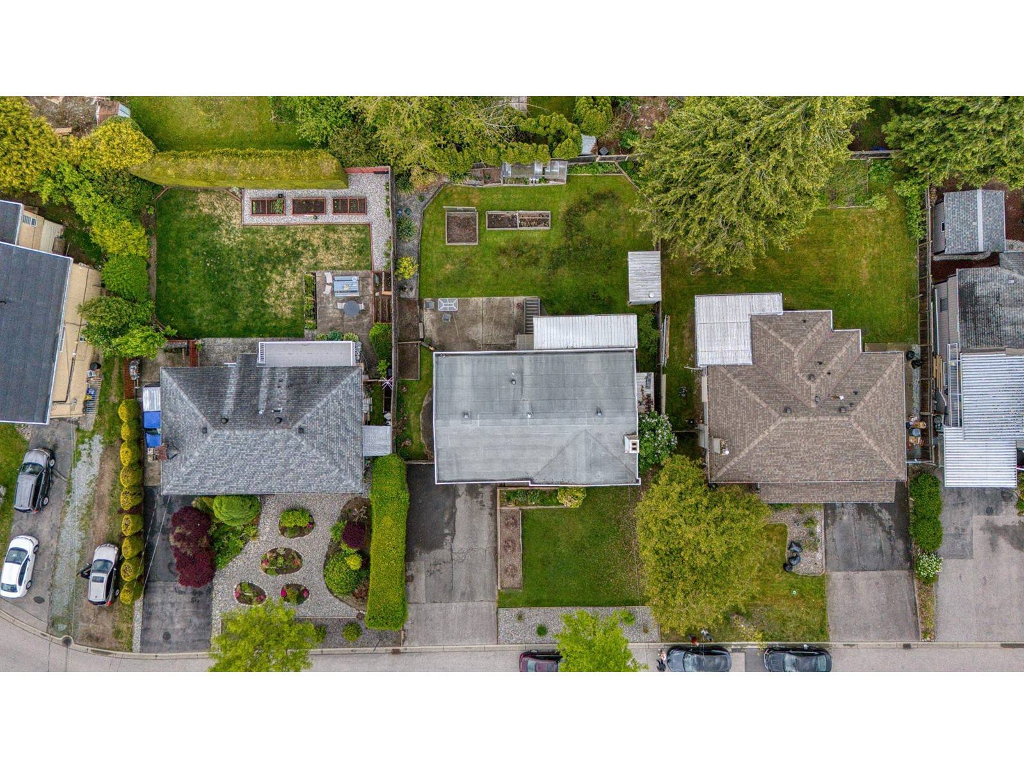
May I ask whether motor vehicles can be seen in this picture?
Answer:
Yes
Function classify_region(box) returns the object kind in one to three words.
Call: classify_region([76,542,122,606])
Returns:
car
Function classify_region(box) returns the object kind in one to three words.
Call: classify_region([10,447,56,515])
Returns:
car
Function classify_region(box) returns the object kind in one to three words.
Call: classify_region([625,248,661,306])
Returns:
shed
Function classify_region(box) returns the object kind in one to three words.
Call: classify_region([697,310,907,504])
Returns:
house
